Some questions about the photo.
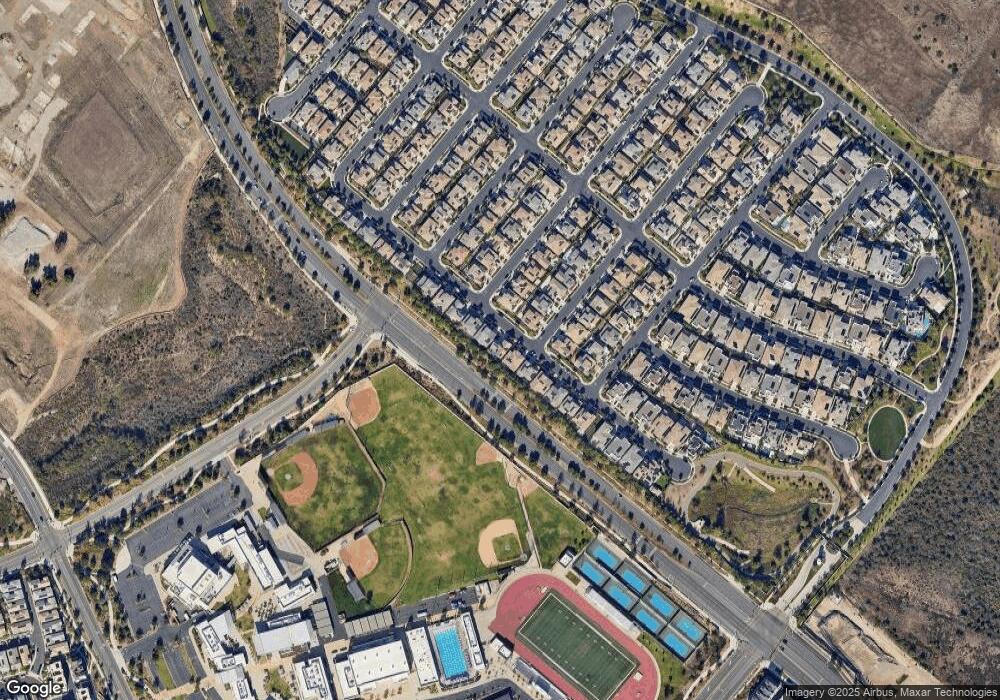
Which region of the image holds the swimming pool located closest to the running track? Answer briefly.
bottom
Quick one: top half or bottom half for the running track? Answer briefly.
bottom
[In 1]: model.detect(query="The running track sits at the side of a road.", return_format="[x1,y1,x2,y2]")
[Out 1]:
[494,575,660,700]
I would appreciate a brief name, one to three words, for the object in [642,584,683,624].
tennis court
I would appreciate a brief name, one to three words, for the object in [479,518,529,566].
baseball field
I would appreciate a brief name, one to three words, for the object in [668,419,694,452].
house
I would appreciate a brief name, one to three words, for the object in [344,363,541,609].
sports field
